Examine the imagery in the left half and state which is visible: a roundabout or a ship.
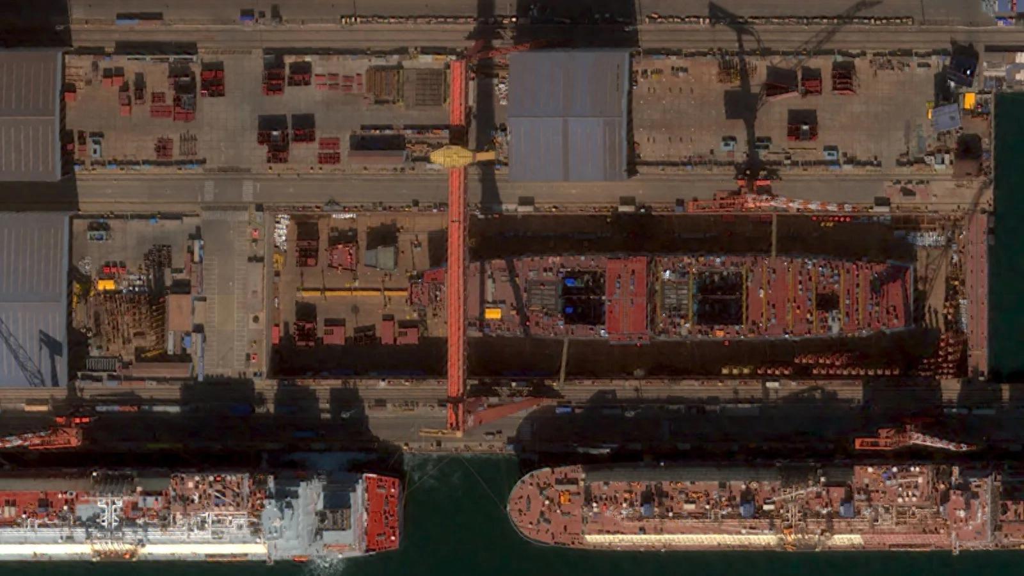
ship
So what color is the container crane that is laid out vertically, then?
red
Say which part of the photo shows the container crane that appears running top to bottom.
center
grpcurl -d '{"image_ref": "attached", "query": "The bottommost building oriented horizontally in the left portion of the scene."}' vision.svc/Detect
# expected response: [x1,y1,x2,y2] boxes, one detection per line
[131,363,194,376]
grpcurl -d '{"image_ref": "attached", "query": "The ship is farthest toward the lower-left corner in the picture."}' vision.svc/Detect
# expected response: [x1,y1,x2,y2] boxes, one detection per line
[0,467,403,565]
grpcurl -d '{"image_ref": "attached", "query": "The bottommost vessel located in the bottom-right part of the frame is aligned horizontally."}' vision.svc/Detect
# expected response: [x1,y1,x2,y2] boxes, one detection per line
[509,460,1024,555]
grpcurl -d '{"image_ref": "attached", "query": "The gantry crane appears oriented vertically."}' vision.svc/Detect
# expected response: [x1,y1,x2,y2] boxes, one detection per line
[430,39,566,431]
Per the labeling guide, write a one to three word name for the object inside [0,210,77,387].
shed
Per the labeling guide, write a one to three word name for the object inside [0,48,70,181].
shed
